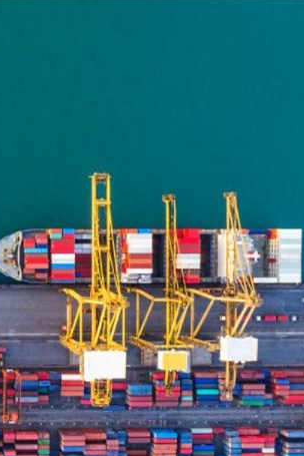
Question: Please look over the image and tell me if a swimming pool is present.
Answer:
No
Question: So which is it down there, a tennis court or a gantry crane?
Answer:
gantry crane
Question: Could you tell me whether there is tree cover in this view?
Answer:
No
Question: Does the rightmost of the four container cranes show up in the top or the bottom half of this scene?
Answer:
bottom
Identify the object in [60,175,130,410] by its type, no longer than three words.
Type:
container crane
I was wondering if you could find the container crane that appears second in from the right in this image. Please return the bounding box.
[126,196,195,391]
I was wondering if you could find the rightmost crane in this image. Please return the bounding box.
[186,193,260,402]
